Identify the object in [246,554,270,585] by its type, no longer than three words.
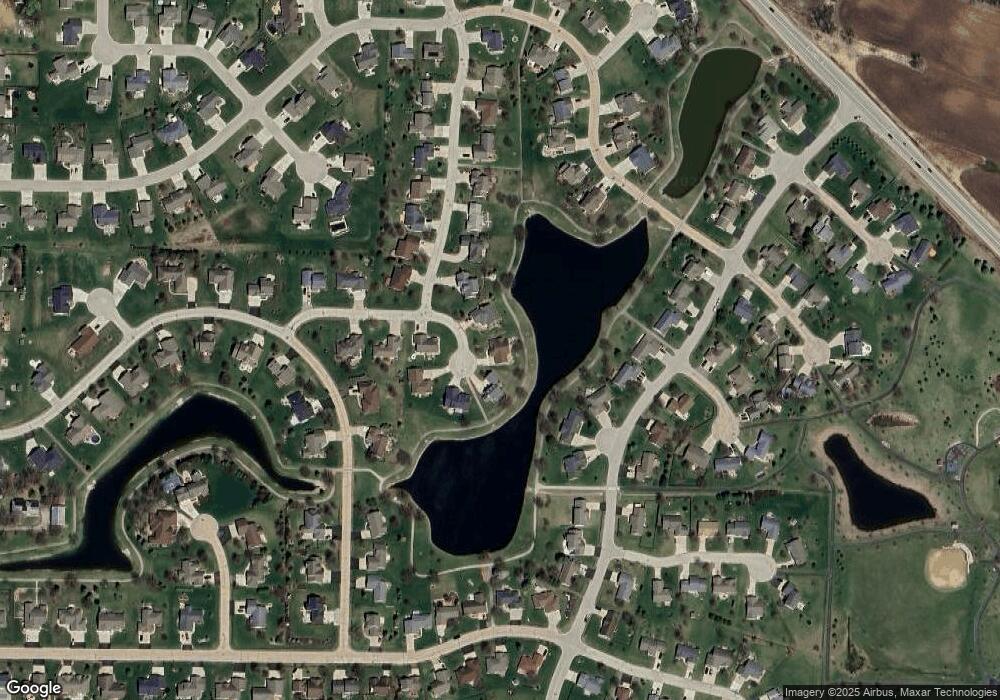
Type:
house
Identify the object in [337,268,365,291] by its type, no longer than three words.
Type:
house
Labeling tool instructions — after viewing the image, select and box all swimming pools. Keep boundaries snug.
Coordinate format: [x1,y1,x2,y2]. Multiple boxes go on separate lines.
[266,20,279,35]
[85,432,101,444]
[327,217,350,236]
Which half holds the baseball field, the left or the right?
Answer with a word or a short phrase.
right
